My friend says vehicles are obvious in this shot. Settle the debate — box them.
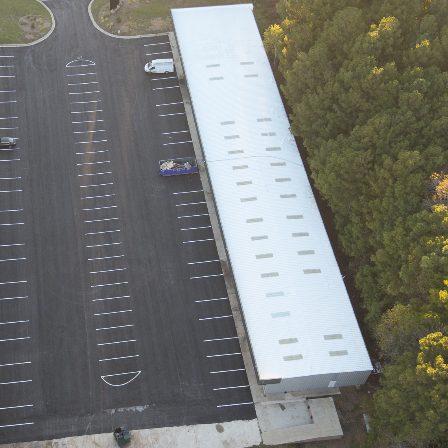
[0,137,16,147]
[144,59,174,76]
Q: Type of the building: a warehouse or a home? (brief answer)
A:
warehouse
